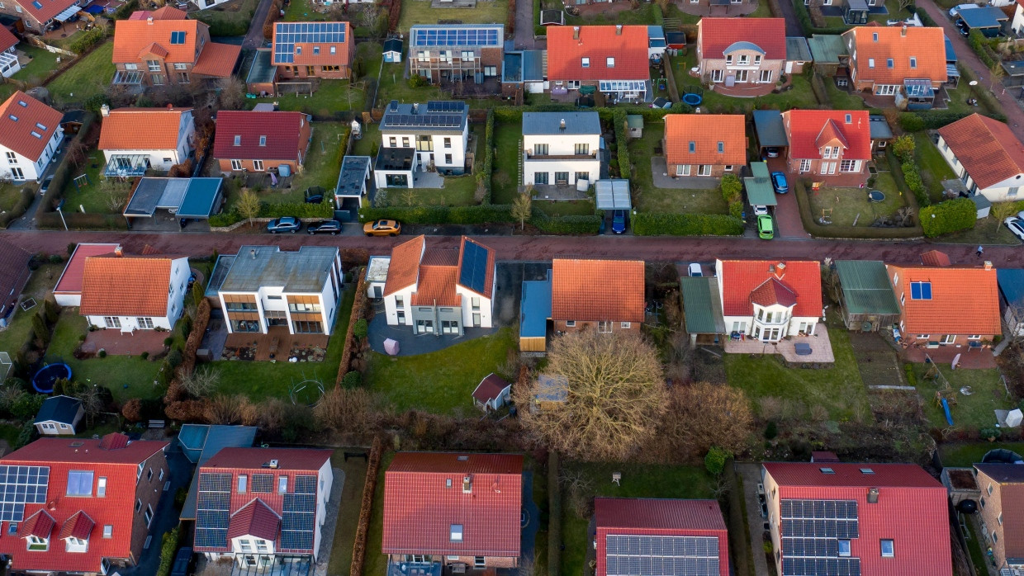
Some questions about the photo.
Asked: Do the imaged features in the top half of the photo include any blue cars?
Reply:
Yes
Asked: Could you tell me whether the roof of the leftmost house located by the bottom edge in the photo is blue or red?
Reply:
red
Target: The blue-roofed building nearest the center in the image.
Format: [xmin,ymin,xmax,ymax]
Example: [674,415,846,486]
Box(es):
[520,281,546,354]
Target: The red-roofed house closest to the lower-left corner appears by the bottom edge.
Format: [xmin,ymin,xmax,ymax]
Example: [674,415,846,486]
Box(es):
[0,433,173,576]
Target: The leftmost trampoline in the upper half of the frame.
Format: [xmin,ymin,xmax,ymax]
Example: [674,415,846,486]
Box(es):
[302,180,325,205]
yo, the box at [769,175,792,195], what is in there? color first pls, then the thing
blue car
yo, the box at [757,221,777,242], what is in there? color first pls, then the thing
green car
